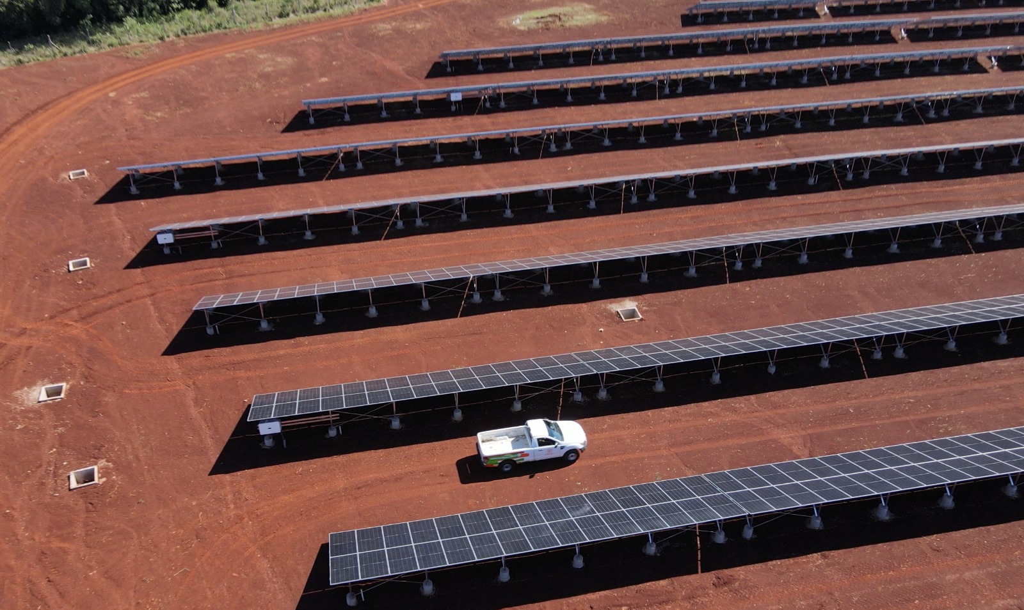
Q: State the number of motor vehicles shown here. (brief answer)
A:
1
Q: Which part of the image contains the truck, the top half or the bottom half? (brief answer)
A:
bottom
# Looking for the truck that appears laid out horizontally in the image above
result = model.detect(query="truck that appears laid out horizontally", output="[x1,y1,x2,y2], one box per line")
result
[474,417,589,474]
